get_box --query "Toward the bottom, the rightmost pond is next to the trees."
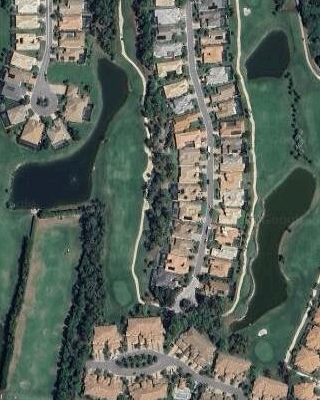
[231,168,316,331]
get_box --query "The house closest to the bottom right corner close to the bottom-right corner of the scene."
[295,382,315,400]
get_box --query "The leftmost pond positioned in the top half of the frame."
[10,58,128,210]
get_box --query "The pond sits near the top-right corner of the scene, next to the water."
[246,30,290,79]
